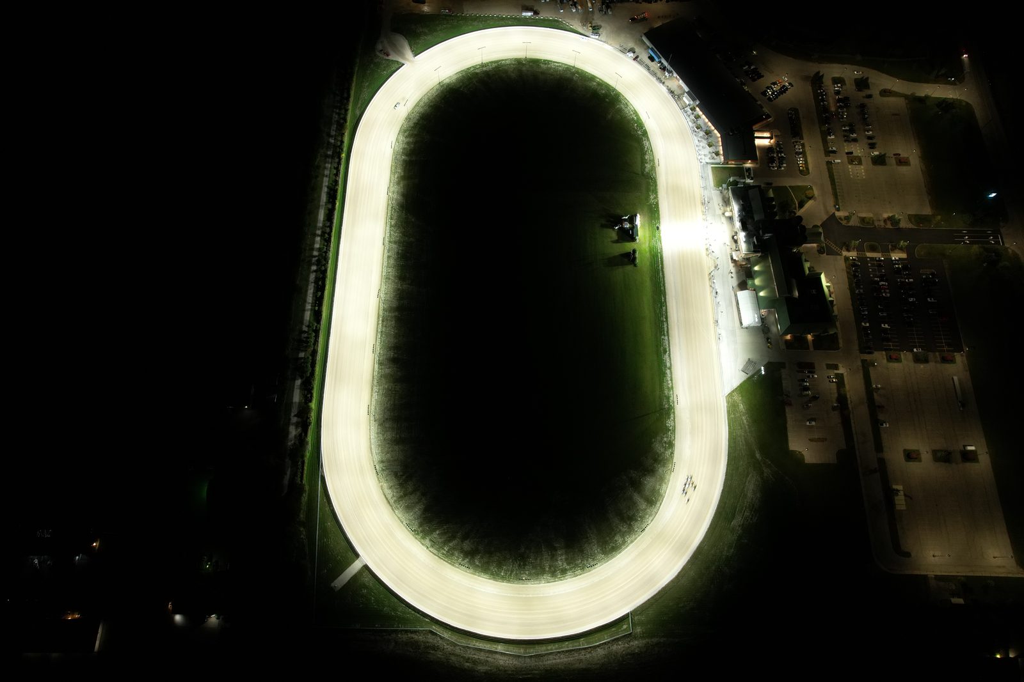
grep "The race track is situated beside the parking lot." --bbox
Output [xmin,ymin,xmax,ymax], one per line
[324,28,724,636]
